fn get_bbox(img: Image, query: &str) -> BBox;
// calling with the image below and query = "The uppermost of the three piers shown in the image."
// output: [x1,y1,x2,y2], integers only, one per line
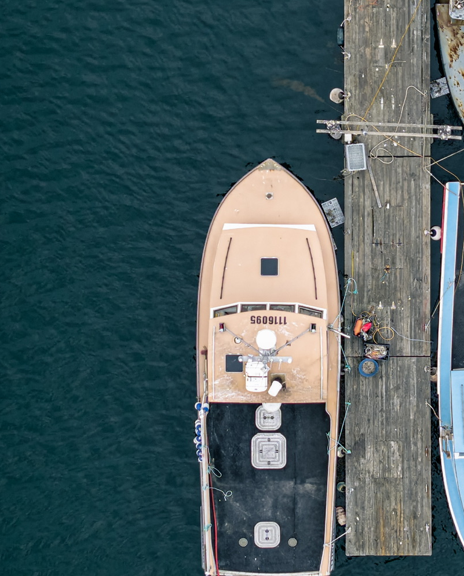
[344,0,431,156]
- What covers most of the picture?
water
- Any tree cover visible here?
No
